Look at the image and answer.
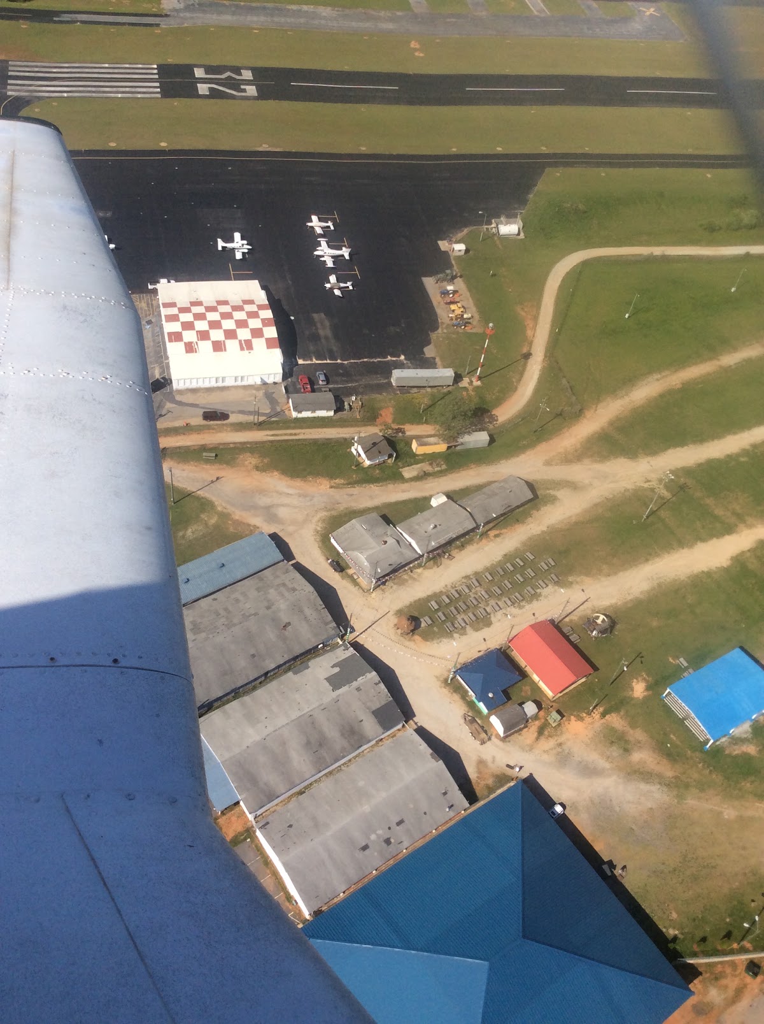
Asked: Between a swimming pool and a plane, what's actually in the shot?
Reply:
plane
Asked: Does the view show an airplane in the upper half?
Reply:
Yes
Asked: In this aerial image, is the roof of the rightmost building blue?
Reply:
Yes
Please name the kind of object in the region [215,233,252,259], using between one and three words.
airplane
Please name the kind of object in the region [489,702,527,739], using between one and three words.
shed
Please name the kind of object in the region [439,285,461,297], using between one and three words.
vehicle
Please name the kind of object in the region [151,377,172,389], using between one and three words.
vehicle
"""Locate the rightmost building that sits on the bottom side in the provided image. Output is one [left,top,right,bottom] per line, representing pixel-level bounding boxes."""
[656,647,764,754]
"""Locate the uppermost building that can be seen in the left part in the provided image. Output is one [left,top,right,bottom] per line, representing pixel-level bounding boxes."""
[162,278,285,388]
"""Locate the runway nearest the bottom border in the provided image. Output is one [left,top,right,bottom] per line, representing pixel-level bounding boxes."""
[0,60,764,111]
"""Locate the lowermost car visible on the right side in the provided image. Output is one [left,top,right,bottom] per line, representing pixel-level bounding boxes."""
[546,801,567,819]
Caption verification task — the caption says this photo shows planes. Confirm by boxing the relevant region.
[314,240,352,267]
[324,274,353,297]
[0,113,369,1024]
[215,233,252,259]
[306,216,335,235]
